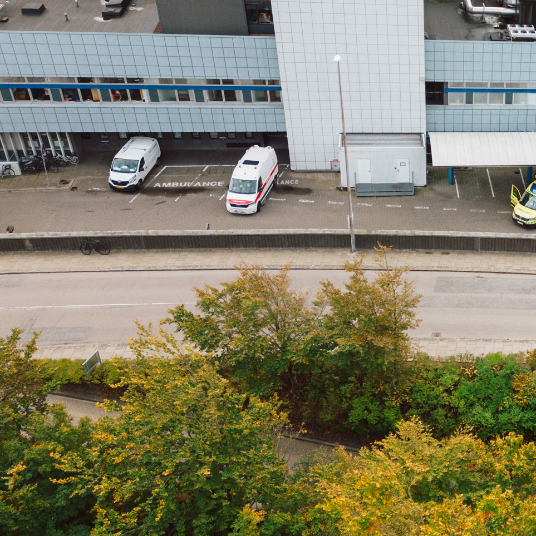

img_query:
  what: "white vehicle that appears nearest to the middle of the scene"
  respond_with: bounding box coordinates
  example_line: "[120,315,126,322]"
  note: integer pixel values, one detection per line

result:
[227,144,281,215]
